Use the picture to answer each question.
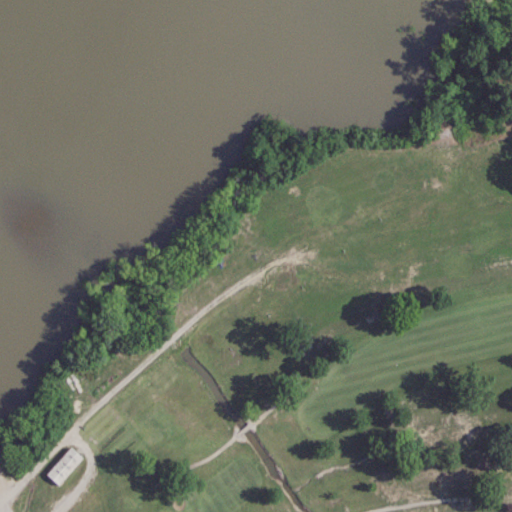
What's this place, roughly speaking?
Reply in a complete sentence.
This image shows a golf course.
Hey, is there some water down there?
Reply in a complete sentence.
Yes, water shows up in the scene.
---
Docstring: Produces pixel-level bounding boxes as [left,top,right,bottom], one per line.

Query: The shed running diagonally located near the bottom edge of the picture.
[47,448,84,486]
